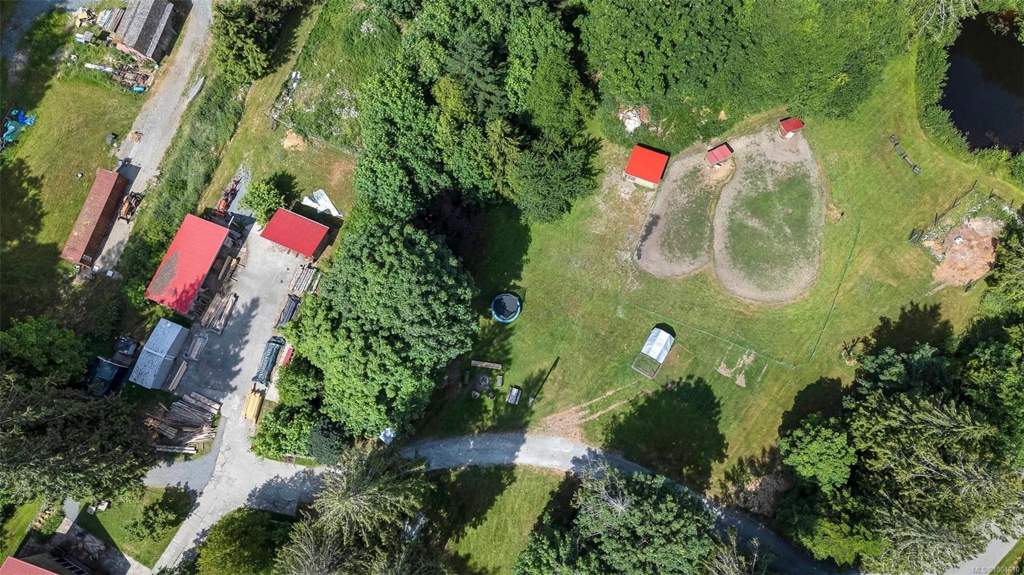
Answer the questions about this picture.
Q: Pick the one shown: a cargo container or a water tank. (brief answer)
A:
cargo container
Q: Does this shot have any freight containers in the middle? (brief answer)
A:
No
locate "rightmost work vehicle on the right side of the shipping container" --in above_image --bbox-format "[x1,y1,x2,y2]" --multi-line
[214,175,232,215]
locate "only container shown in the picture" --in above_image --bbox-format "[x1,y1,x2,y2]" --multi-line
[62,167,129,265]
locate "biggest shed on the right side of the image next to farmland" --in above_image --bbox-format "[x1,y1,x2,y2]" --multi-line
[624,144,670,185]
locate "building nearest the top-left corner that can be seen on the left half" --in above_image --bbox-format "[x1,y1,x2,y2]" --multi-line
[114,0,193,71]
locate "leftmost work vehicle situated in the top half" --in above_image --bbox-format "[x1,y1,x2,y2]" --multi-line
[118,191,140,225]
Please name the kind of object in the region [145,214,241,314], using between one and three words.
shed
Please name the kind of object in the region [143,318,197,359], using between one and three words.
shed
